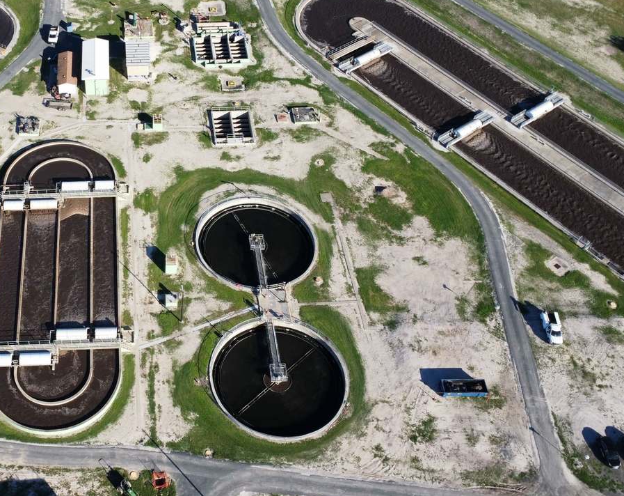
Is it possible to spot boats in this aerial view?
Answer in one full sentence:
No, the frame has no boat in it.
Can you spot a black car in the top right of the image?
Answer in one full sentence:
No, there is no black car in the top right of the image.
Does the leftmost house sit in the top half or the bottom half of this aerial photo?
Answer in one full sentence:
You can find the leftmost house in the top half.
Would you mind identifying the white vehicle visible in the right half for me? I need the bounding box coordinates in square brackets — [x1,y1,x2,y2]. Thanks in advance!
[538,307,569,347]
